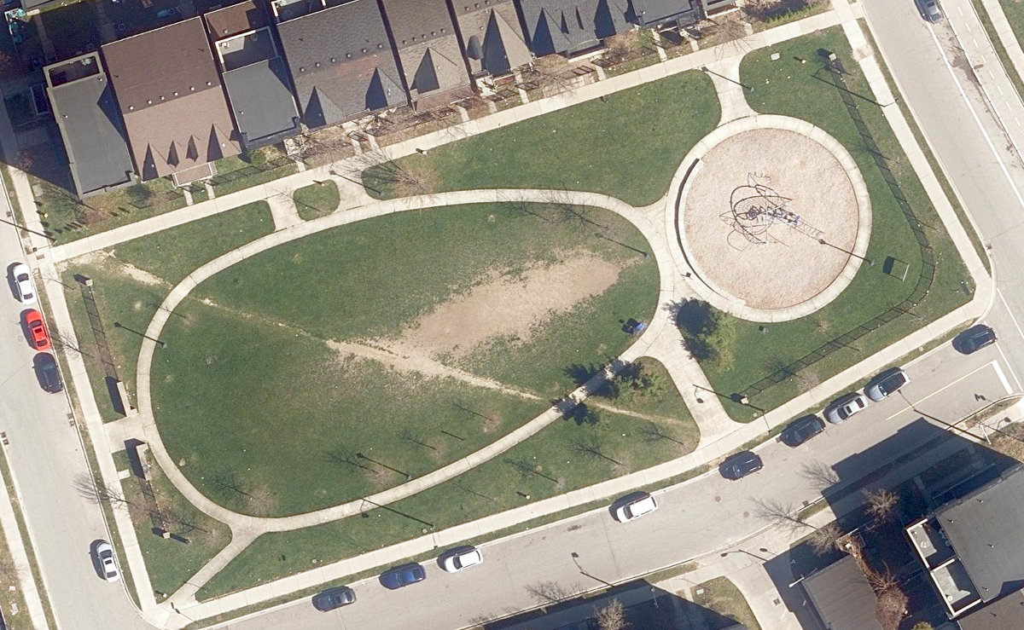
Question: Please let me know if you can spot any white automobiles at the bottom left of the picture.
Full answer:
Yes, I can see a white automobile at the bottom left of the picture.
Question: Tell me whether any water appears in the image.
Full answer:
No, water can't be seen anywhere here.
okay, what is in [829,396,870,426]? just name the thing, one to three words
car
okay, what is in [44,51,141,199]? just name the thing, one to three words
house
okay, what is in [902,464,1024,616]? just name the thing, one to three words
house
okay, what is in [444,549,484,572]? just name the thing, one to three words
car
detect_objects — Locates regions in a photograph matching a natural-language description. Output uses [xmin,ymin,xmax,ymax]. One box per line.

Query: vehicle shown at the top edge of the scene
[916,0,942,23]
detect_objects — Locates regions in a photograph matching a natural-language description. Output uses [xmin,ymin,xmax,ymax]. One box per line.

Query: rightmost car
[955,325,997,355]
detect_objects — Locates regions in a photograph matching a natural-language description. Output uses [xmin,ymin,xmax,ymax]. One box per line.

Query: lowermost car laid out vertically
[97,541,119,583]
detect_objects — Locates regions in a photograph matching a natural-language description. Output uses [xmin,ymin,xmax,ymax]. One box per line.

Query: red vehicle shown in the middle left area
[27,309,50,351]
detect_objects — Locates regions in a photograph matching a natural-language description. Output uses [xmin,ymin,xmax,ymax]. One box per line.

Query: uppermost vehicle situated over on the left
[13,263,37,305]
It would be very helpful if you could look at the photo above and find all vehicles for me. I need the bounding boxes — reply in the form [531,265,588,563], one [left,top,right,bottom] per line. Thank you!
[38,355,61,395]
[97,541,119,583]
[385,566,426,590]
[955,325,997,355]
[615,496,660,523]
[444,549,484,572]
[786,417,827,448]
[27,309,50,351]
[724,452,765,482]
[829,396,870,426]
[13,263,37,305]
[316,589,358,613]
[871,370,912,401]
[916,0,942,23]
